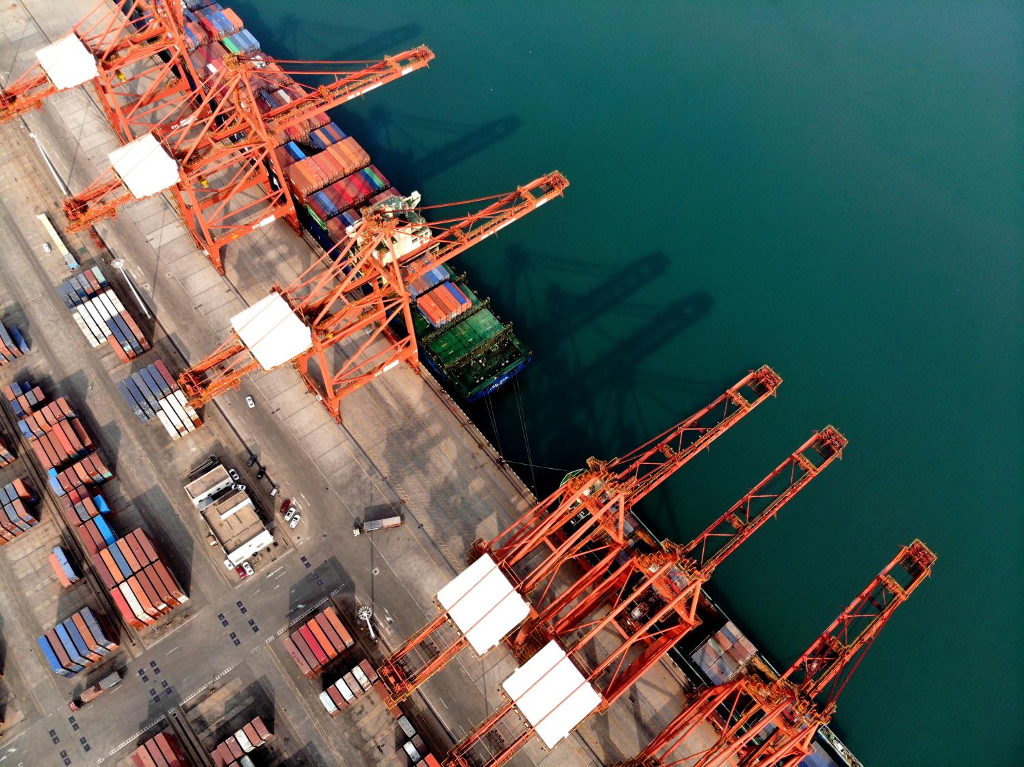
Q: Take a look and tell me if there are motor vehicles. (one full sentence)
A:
Yes, looking at the shot, I can spot a motor vehicle.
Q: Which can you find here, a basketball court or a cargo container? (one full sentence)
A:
Of the two, only a cargo container appears.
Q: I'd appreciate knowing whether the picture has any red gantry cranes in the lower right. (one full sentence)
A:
Yes, in the lower right there is a red gantry crane.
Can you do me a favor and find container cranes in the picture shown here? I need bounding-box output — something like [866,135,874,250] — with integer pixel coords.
[628,535,950,767]
[171,166,576,421]
[50,39,437,267]
[0,0,219,145]
[432,420,857,767]
[366,358,790,715]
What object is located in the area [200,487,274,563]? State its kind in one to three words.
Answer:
building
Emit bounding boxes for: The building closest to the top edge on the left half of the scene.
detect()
[184,463,236,509]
